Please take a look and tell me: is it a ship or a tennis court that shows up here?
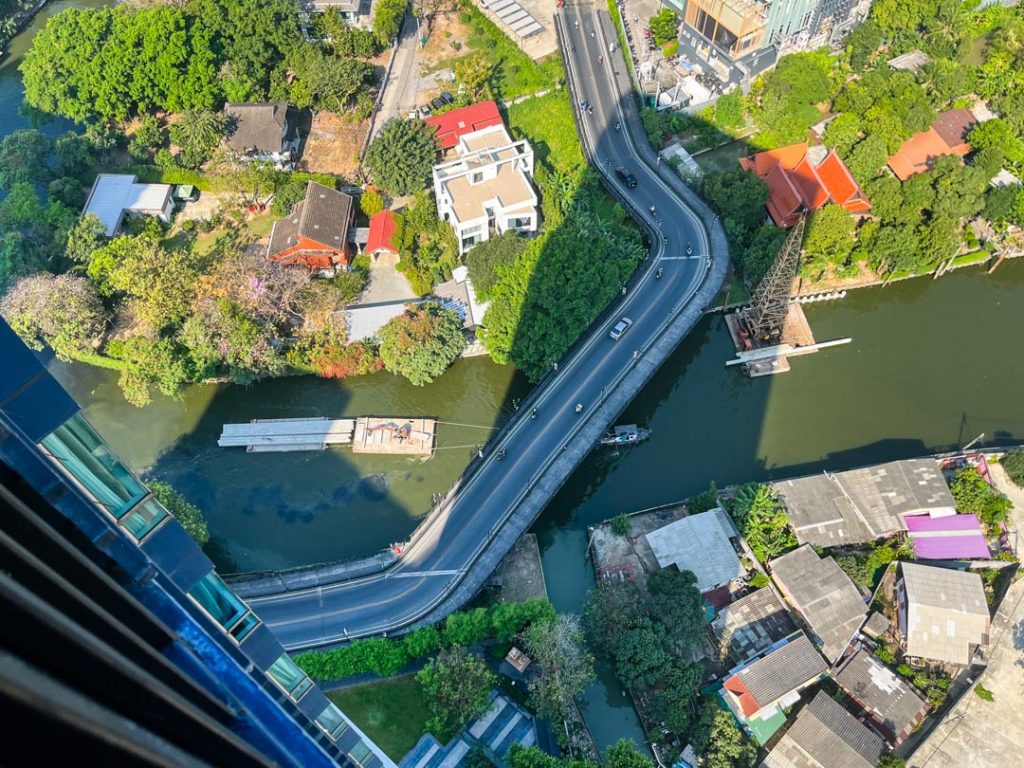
ship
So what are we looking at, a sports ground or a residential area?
residential area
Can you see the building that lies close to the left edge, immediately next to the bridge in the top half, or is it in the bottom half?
bottom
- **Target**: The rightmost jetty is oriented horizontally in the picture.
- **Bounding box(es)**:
[743,356,789,380]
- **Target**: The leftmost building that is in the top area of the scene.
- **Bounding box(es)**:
[84,174,174,243]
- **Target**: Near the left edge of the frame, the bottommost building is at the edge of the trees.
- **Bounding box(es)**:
[0,317,397,768]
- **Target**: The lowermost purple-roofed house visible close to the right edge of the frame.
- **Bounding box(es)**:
[899,514,990,563]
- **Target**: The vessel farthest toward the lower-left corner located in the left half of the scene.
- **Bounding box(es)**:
[217,418,355,454]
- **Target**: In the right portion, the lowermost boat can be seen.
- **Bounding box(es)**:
[600,422,650,443]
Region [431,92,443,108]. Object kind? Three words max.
vehicle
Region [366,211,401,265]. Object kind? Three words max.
building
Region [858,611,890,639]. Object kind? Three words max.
shed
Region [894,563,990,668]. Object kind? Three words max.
house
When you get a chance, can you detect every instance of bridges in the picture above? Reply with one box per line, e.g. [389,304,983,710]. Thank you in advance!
[220,0,731,659]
